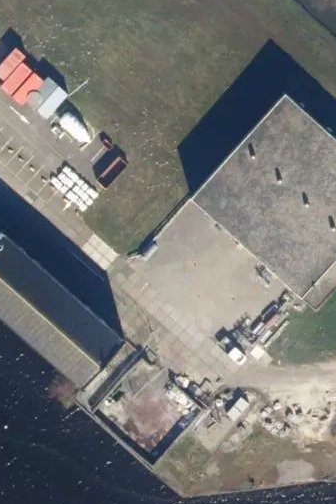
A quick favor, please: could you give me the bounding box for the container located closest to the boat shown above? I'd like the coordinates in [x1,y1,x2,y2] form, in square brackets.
[37,84,69,119]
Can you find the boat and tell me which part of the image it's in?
top left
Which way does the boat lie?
diagonally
